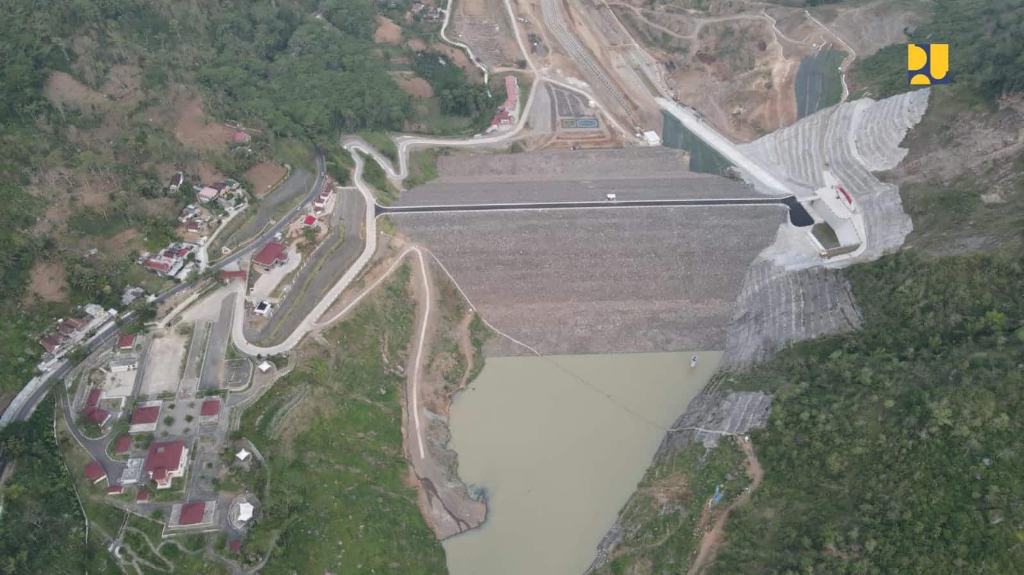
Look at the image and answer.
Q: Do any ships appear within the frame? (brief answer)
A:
No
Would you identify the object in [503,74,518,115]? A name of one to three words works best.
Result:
house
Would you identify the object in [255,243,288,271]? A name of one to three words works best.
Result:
house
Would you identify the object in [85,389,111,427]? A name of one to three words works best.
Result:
building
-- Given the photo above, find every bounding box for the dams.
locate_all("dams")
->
[375,147,812,357]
